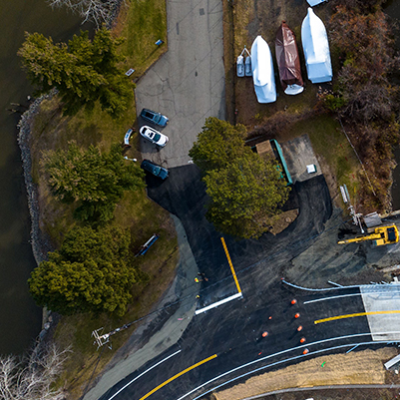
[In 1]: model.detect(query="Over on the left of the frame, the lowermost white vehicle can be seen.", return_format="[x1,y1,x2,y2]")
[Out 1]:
[139,124,171,146]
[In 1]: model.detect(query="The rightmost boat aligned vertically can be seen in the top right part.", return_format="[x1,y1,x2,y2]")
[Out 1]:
[301,6,335,85]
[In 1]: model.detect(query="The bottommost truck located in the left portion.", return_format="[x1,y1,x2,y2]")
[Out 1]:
[140,159,172,181]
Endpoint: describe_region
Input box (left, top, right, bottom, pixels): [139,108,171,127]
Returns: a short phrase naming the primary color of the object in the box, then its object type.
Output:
blue vehicle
